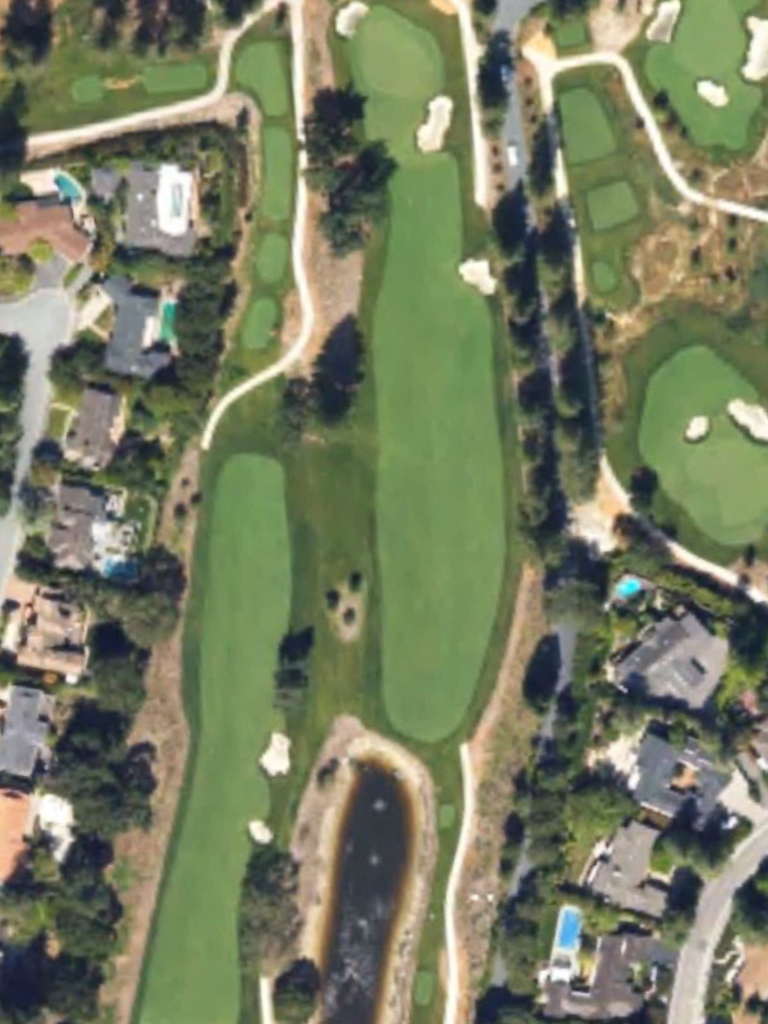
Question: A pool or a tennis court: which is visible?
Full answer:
It is a pool that can be seen here.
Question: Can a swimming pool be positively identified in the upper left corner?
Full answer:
Yes, looking in the upper left corner, one can make out a swimming pool.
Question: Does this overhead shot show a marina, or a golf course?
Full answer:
This image shows a golf course.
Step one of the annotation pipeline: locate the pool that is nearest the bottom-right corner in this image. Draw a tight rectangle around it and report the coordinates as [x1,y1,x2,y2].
[555,904,584,954]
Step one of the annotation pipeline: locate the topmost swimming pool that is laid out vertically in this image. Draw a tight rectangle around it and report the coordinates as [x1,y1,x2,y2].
[170,183,183,216]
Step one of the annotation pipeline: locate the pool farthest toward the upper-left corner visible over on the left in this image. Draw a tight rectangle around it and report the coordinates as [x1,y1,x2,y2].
[53,174,83,202]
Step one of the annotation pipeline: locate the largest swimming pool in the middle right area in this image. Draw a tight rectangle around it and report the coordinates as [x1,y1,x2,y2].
[615,576,643,599]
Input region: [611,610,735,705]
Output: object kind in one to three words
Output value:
house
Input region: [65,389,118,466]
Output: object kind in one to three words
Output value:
house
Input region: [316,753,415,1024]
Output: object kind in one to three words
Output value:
pond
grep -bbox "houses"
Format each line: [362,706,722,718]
[90,162,194,255]
[749,721,768,768]
[0,197,90,263]
[598,817,667,917]
[540,932,678,1019]
[632,732,739,819]
[0,683,50,775]
[101,269,170,379]
[16,585,89,677]
[0,788,29,885]
[65,389,118,466]
[611,610,735,705]
[50,486,107,569]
